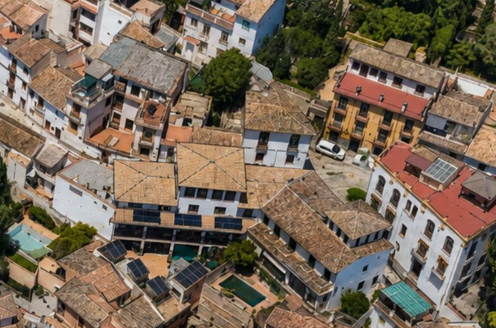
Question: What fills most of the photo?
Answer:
buildings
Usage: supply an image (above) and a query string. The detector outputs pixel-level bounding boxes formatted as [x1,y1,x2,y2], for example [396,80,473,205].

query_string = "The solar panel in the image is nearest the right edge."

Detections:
[215,216,241,233]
